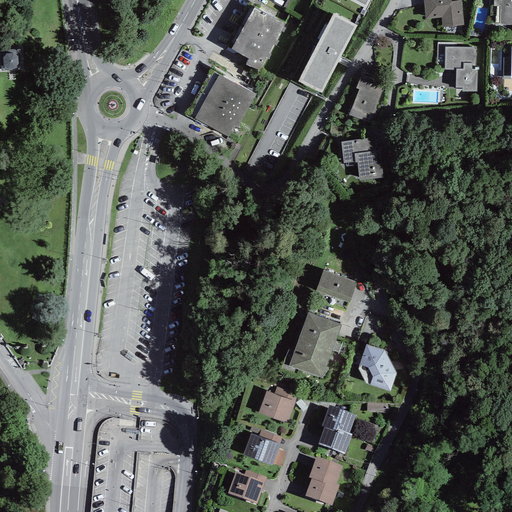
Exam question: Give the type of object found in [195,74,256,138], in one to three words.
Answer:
building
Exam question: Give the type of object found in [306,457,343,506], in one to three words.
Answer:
house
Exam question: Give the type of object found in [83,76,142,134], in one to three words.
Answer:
roundabout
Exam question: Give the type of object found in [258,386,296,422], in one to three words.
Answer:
house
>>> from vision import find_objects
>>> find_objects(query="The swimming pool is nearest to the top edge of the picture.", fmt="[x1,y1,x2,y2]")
[474,6,488,30]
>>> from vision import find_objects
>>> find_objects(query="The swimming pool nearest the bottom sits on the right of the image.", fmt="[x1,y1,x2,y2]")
[412,89,440,104]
